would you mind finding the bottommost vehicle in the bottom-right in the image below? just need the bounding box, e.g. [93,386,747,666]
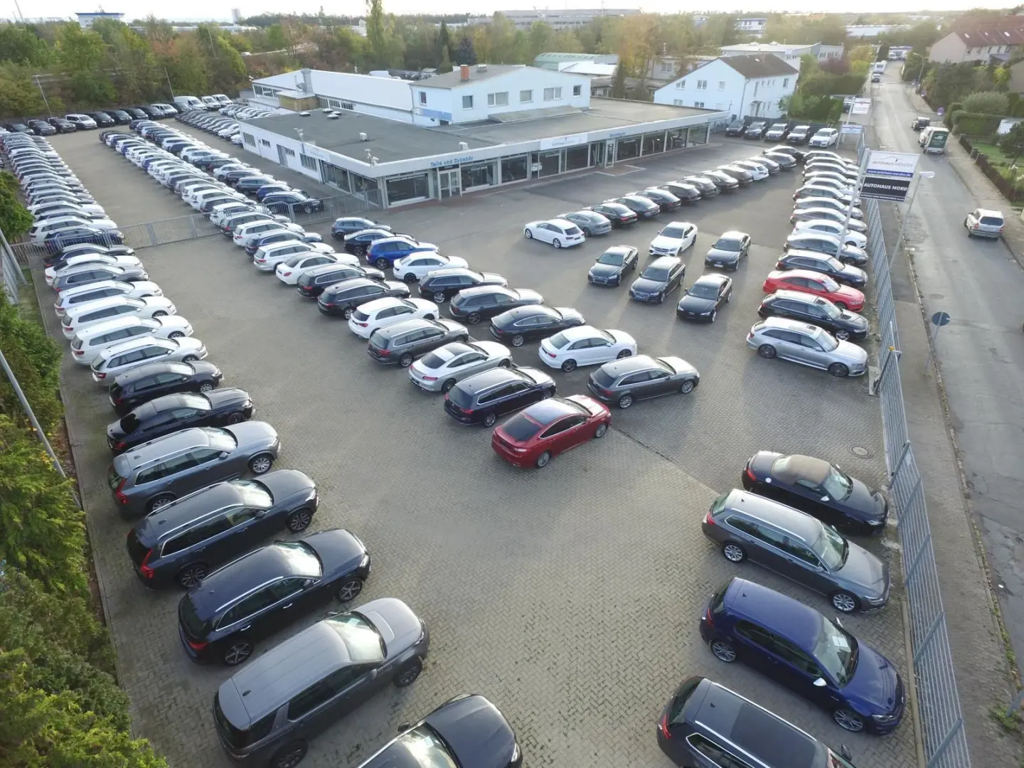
[652,675,853,768]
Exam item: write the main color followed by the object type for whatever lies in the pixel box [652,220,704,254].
white car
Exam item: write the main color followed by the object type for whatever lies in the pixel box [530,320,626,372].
white car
